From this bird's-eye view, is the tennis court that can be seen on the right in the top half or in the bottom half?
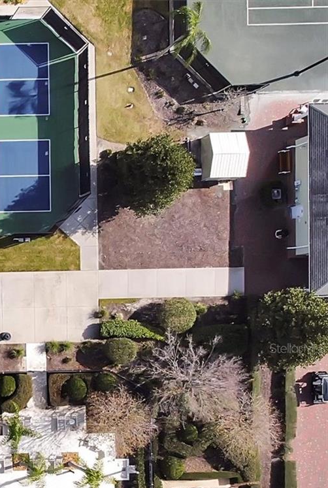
top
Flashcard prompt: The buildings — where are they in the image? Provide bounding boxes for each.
[200,132,249,177]
[289,102,328,296]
